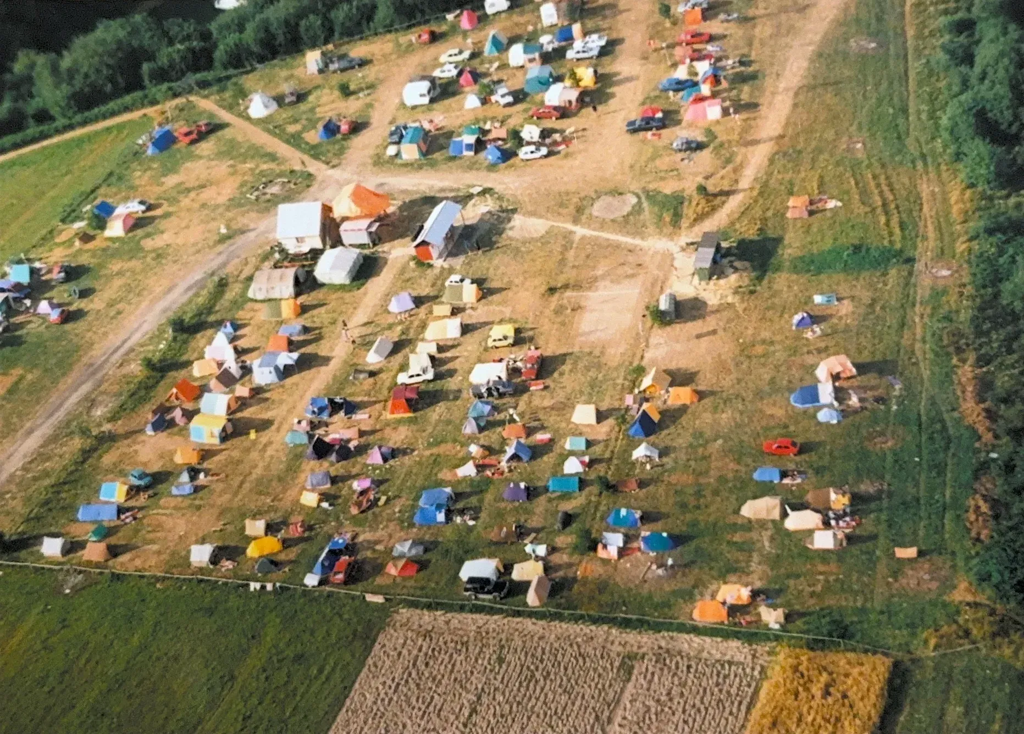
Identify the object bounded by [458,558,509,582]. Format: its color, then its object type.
white tent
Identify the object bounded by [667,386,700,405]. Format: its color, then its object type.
orange tent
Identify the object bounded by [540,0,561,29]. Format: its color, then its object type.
white camper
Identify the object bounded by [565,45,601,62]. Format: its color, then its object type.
white car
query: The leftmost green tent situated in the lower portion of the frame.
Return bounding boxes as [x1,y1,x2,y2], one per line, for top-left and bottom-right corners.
[83,523,110,542]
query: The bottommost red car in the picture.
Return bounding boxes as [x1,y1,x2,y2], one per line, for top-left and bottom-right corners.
[329,557,355,583]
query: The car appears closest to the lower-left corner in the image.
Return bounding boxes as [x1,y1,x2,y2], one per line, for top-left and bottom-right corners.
[126,464,156,485]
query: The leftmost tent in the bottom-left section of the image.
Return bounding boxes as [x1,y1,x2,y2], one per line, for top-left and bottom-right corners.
[41,536,67,557]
